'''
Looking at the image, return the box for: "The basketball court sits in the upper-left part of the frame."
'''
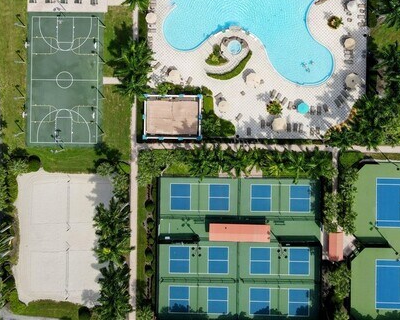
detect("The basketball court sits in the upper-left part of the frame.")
[30,17,99,143]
